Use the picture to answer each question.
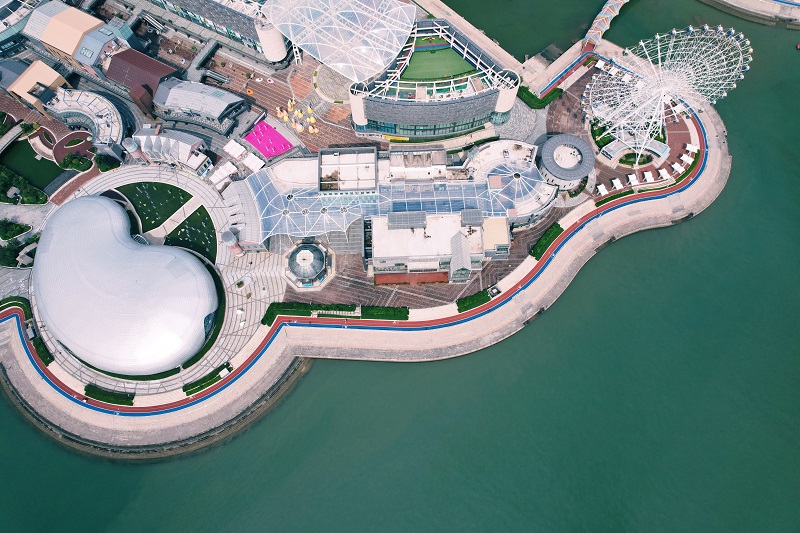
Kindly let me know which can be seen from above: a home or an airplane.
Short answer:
home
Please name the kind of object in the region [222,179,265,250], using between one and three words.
building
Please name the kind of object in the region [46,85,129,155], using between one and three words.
building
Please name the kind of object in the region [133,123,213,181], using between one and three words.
house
